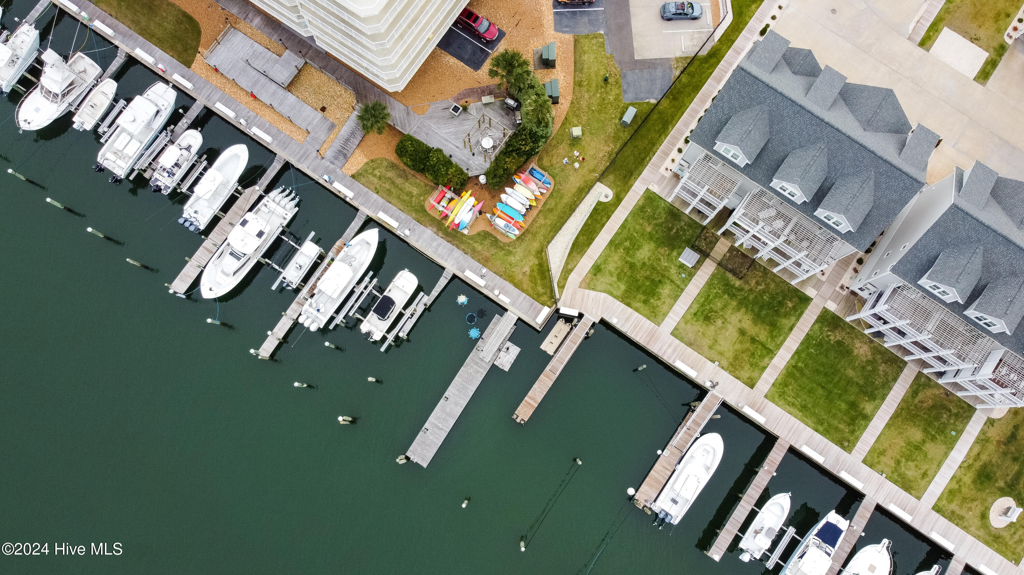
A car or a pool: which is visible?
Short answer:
car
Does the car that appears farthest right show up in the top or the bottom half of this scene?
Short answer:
top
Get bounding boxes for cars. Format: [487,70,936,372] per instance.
[553,0,597,6]
[455,7,498,43]
[661,0,702,22]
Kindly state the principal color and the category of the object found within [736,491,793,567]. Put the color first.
white boat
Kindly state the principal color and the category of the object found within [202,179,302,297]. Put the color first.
white boat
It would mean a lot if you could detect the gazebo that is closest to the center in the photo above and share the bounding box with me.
[463,106,512,165]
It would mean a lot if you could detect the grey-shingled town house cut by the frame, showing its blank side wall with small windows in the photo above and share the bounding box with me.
[847,156,1024,419]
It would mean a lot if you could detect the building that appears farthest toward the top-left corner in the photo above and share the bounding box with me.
[249,0,472,93]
